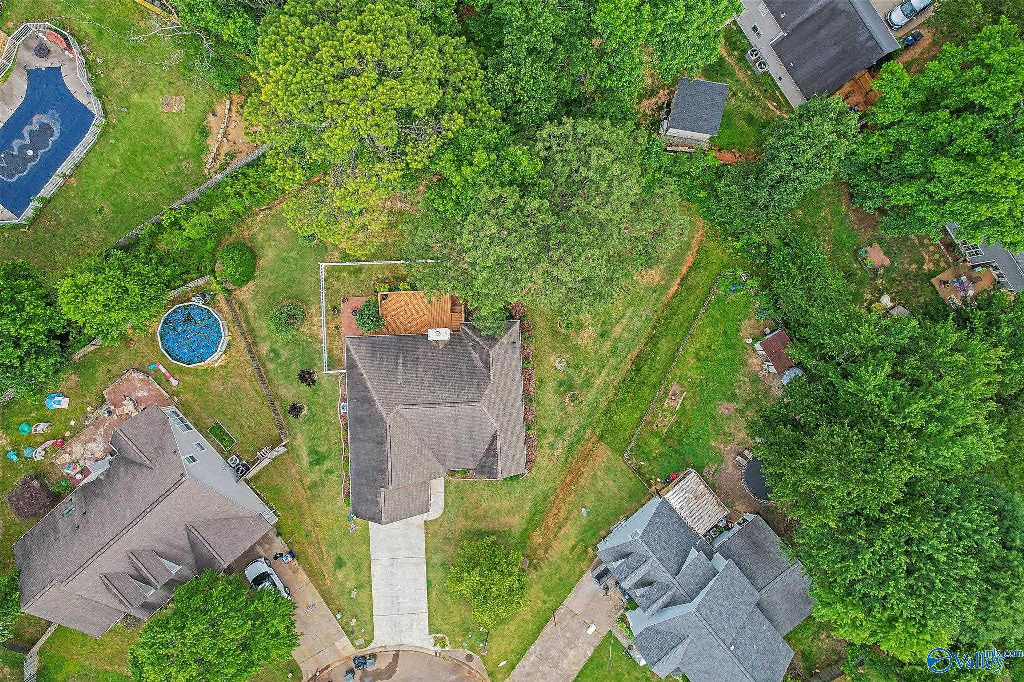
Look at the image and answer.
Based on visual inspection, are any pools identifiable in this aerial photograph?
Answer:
Yes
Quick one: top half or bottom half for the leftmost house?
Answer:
bottom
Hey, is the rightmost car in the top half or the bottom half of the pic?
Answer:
top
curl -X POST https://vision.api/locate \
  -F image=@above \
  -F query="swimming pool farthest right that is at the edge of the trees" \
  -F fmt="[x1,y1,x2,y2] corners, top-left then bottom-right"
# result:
[156,300,231,369]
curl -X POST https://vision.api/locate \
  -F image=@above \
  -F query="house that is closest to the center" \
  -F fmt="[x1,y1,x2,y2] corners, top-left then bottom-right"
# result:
[344,319,527,525]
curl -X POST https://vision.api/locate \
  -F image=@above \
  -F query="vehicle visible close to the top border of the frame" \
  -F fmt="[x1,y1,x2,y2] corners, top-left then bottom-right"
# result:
[890,0,940,26]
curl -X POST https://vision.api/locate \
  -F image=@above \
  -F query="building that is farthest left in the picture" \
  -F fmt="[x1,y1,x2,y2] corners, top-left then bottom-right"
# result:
[13,403,279,639]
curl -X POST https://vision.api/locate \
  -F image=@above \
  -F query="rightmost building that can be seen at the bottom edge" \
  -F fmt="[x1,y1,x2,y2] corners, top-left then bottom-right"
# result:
[596,494,823,682]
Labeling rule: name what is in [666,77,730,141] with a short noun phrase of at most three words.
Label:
shed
